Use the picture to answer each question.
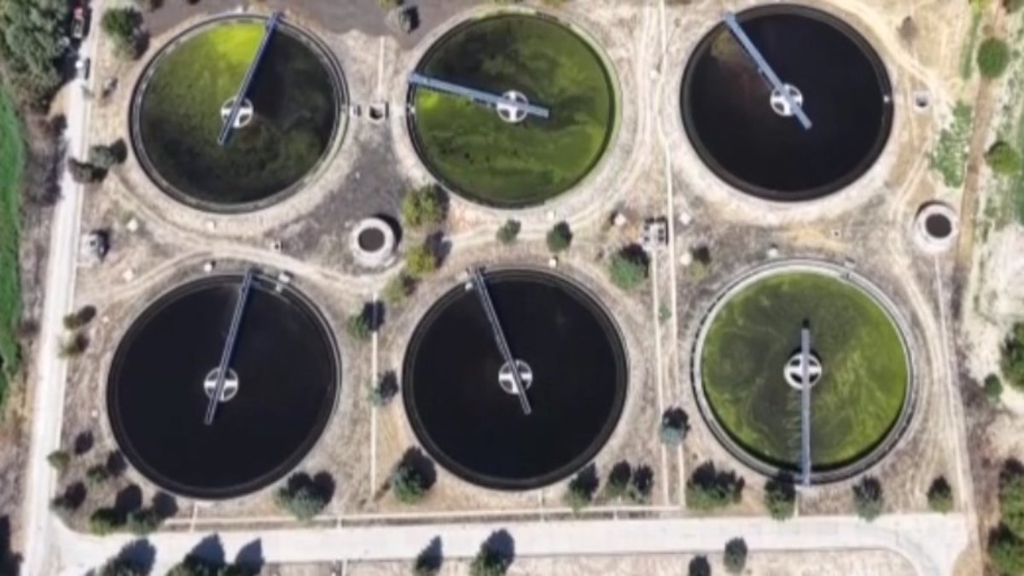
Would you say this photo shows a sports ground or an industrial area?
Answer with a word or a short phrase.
industrial area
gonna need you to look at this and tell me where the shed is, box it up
[82,236,109,268]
